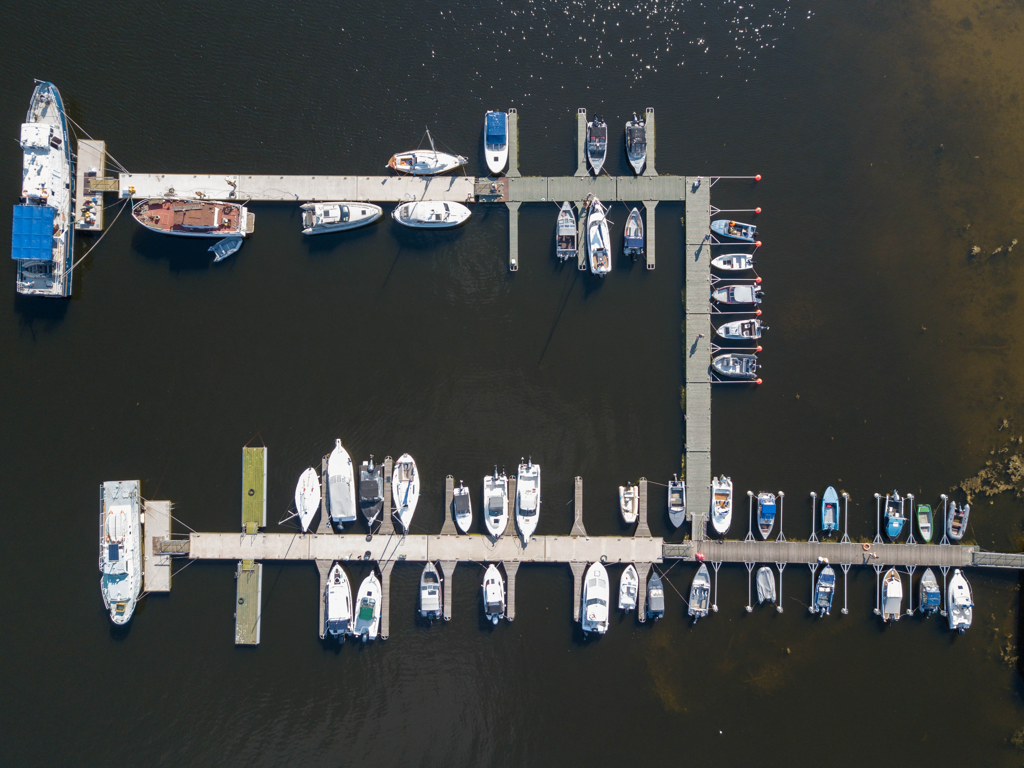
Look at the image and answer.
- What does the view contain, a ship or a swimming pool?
ship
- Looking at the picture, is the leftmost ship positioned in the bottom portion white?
Yes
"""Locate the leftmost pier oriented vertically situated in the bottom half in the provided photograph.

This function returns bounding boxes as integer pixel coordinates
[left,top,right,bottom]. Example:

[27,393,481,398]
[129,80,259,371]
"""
[144,499,173,591]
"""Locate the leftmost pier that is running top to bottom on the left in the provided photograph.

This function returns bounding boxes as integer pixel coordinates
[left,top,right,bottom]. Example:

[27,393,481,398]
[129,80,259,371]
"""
[75,139,107,231]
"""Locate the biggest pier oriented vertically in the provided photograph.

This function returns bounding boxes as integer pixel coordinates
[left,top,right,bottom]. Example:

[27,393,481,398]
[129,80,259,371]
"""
[685,176,710,520]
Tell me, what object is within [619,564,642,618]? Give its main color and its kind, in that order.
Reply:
white boat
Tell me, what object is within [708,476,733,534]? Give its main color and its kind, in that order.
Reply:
white boat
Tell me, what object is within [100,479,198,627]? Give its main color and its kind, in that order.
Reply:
white ship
